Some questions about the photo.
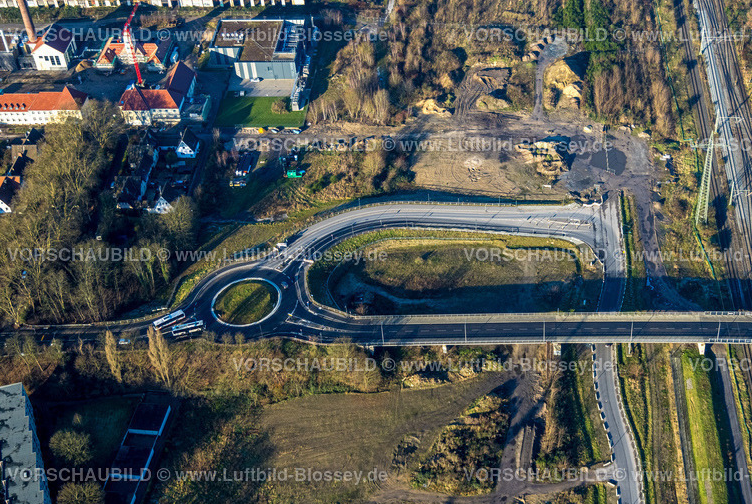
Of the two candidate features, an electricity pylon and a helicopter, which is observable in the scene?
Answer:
electricity pylon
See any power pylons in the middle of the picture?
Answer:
No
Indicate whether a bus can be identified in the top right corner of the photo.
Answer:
No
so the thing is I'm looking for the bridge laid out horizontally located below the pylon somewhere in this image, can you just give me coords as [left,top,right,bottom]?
[359,308,752,362]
